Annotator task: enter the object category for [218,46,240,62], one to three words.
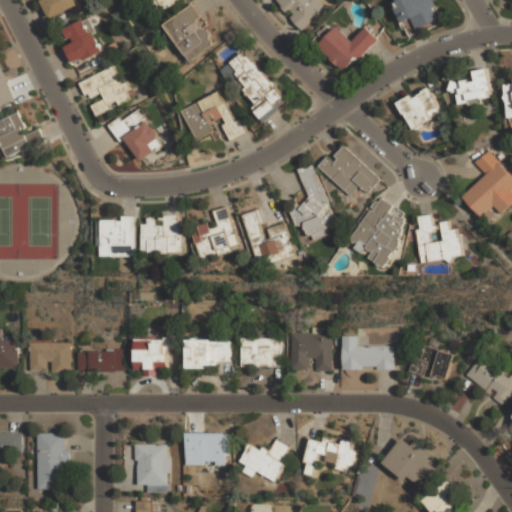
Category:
swimming pool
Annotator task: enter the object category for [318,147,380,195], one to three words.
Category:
house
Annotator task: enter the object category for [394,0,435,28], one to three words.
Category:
house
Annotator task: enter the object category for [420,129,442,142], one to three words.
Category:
swimming pool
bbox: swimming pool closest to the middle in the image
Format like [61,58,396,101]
[333,251,350,272]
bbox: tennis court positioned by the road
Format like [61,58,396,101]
[0,164,80,281]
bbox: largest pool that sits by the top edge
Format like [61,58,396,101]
[350,3,365,28]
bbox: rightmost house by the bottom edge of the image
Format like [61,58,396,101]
[422,480,452,512]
